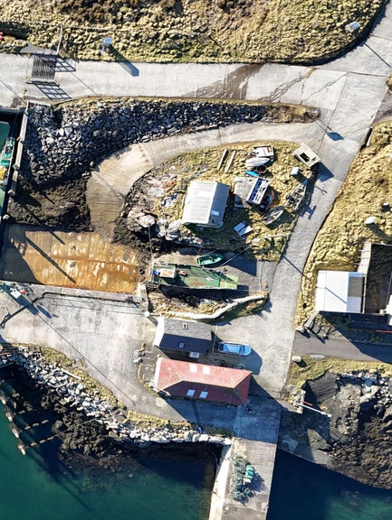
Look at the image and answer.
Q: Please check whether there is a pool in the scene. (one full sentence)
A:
No, no pool can be seen from above.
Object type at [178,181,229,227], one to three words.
shed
